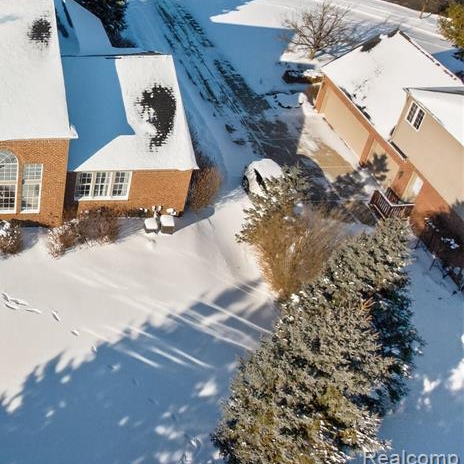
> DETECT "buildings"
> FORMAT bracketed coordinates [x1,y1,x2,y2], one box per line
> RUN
[0,0,199,227]
[316,21,464,257]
